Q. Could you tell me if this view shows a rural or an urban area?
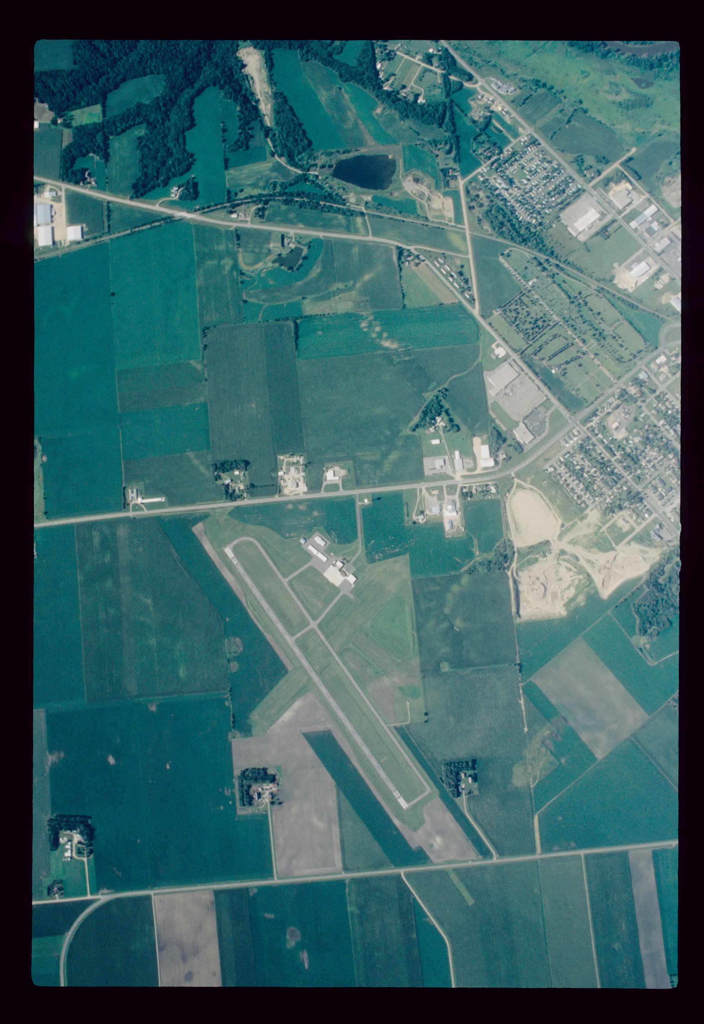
rural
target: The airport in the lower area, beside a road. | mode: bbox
[192,508,439,832]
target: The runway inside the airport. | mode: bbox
[223,546,408,810]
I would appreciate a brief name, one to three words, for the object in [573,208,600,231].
building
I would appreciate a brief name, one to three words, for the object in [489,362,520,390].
building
